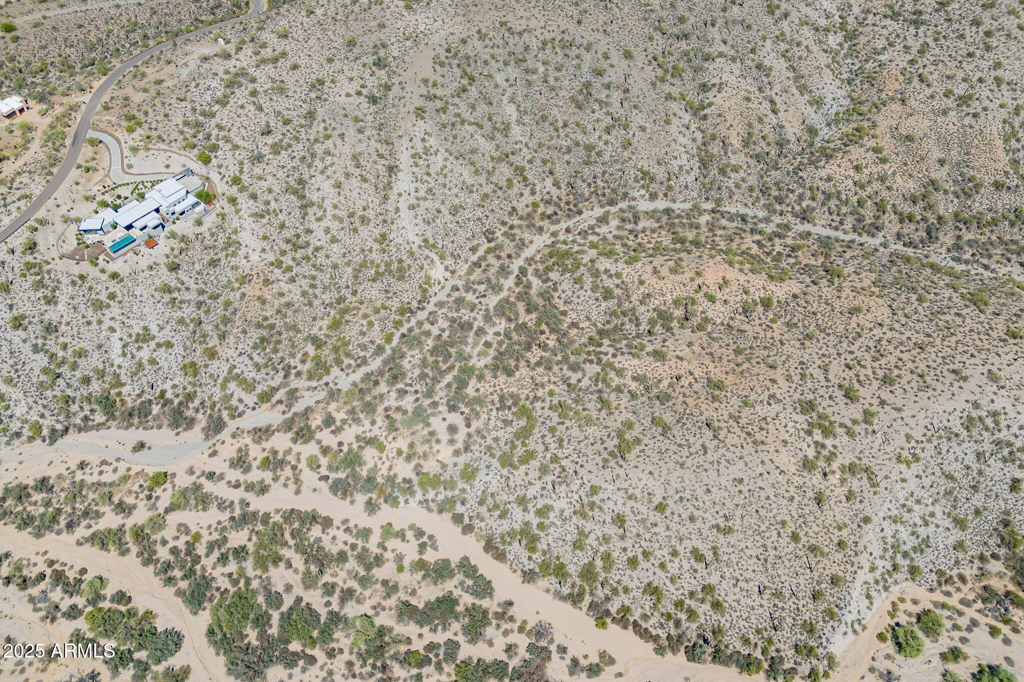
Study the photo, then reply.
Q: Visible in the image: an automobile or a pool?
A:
pool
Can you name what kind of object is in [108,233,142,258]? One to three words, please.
swimming pool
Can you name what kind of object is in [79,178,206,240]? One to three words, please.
house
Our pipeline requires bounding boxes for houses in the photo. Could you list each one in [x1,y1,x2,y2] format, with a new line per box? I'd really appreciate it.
[79,178,206,240]
[0,96,30,121]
